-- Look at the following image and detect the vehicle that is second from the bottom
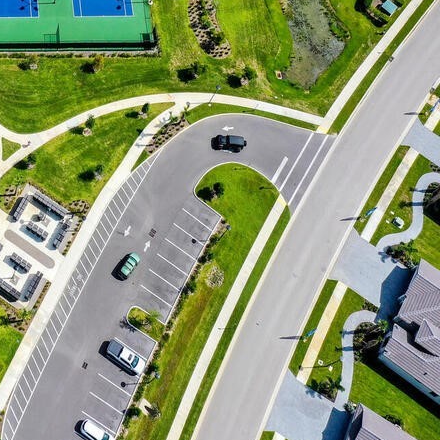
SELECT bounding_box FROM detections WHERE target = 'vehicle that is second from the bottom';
[109,338,147,373]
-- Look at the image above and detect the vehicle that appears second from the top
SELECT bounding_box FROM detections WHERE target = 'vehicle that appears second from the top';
[120,250,140,277]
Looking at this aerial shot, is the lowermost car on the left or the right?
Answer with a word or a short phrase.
left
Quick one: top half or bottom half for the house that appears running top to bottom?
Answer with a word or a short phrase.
bottom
